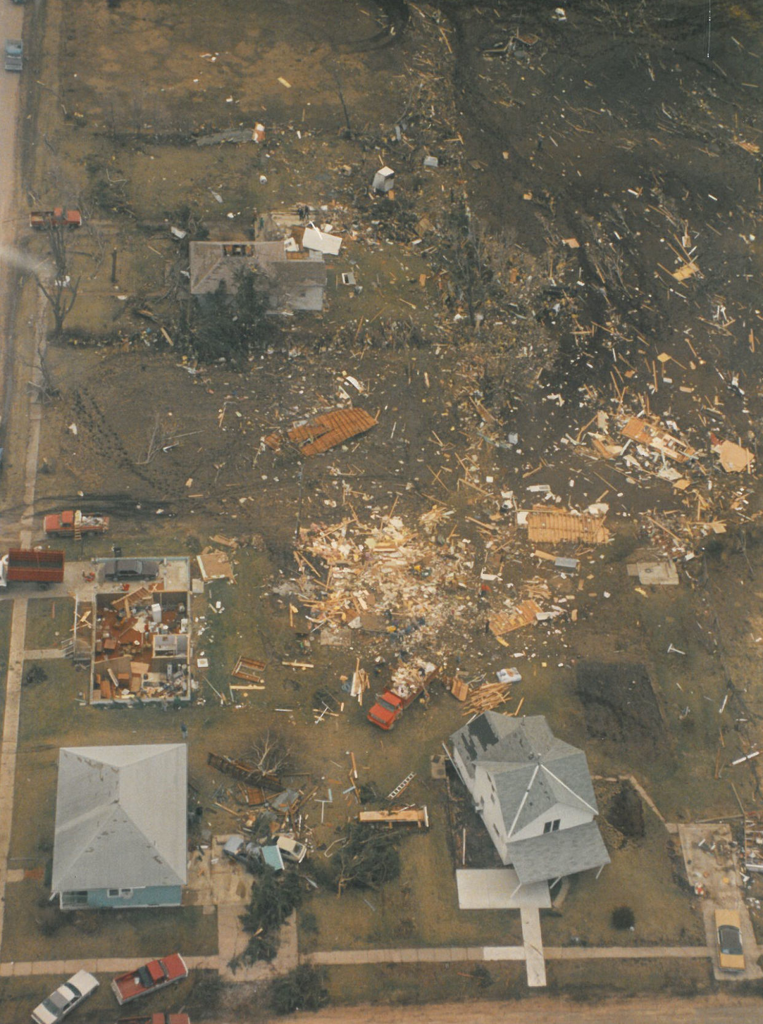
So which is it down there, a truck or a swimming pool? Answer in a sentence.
There is a truck in the scene.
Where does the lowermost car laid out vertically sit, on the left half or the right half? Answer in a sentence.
The lowermost car laid out vertically sits on the right side.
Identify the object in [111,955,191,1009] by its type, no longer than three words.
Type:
truck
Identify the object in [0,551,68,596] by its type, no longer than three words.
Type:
truck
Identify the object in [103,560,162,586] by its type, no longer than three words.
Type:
car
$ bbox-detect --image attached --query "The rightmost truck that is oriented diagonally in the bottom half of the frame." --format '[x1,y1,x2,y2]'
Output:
[368,656,448,735]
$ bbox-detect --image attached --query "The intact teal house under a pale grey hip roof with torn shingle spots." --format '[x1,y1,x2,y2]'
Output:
[50,741,188,906]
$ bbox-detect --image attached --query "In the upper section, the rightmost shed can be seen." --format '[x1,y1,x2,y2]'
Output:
[373,167,393,196]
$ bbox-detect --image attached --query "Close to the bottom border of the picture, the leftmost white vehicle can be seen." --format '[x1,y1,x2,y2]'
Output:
[27,965,105,1024]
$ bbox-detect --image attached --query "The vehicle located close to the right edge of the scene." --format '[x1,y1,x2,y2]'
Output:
[713,909,744,977]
